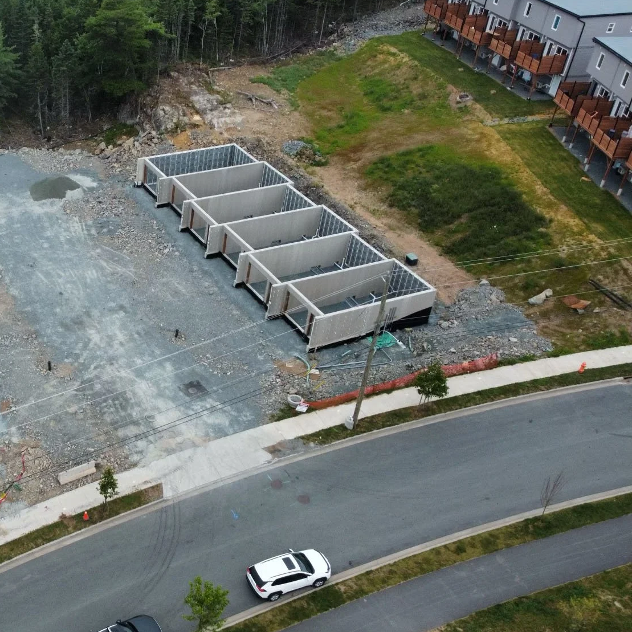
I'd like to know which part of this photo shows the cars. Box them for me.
[250,552,333,602]
[102,618,168,632]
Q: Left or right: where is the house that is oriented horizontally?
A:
right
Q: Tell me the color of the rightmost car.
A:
white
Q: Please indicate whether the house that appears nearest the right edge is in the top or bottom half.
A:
top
